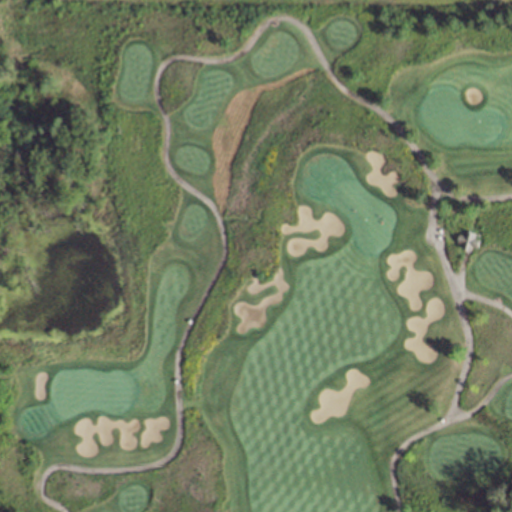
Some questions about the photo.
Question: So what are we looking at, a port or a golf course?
golf course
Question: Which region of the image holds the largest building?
right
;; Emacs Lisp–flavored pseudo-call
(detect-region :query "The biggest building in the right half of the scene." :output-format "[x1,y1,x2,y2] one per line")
[463,230,482,256]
